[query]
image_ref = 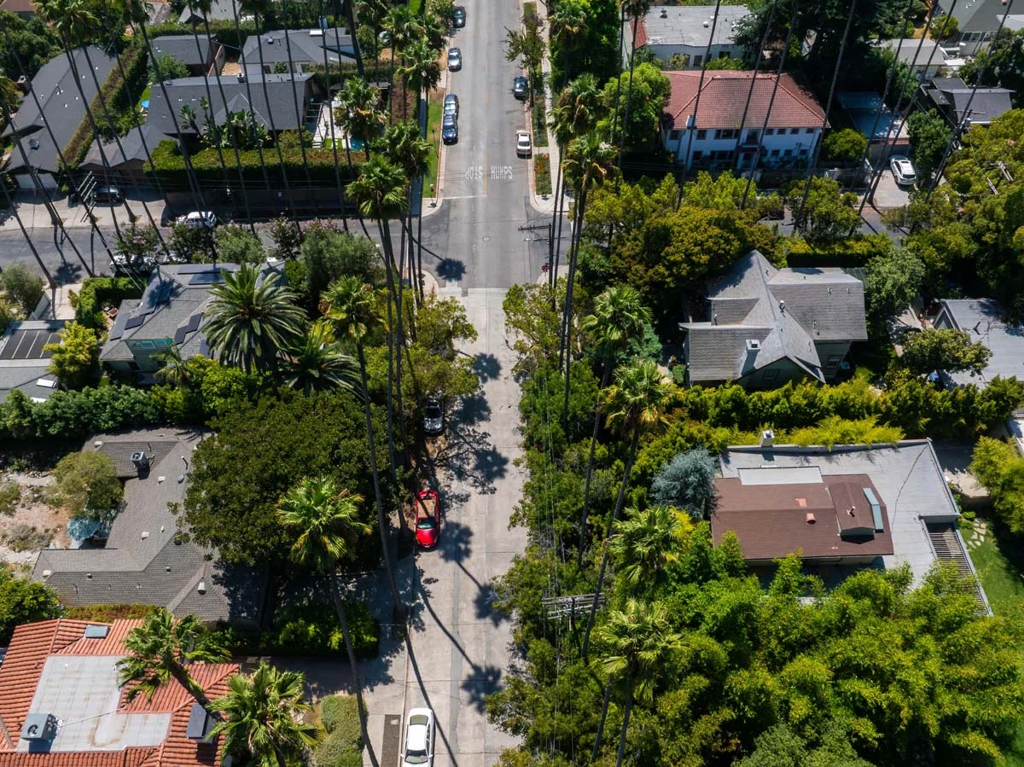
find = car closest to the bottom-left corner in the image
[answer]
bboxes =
[398,705,438,767]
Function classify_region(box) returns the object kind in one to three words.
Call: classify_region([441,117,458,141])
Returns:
car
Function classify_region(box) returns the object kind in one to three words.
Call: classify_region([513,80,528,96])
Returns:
car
